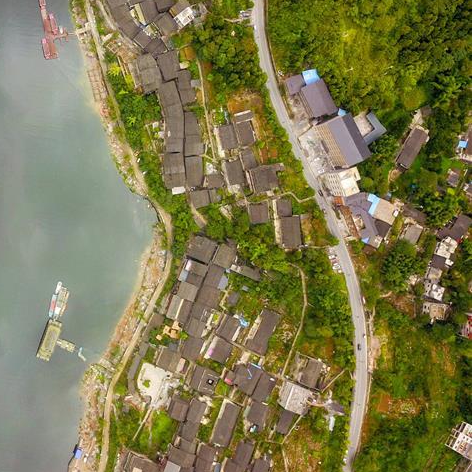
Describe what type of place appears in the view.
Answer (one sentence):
What you see here is a residential area.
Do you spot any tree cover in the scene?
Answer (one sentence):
Yes, there is tree cover in the image.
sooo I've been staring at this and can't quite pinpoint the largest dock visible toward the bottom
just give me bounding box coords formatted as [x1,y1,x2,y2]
[37,320,62,361]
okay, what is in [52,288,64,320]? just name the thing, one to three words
boat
